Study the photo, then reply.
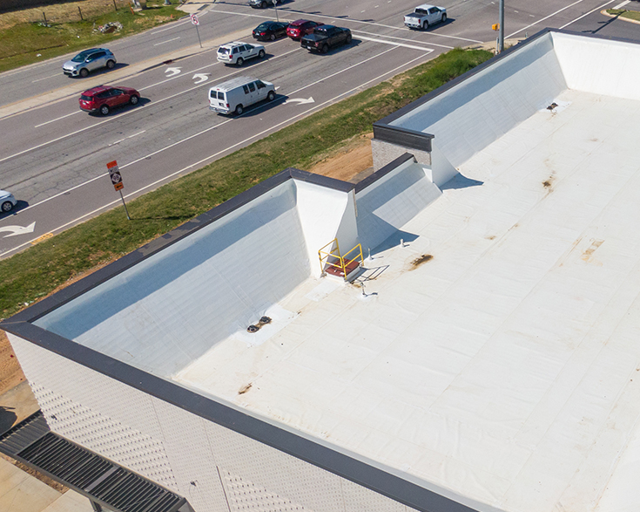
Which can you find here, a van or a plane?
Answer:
van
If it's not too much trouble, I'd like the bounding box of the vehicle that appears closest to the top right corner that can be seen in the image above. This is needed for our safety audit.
[403,4,447,30]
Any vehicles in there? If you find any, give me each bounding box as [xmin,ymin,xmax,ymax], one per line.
[208,75,277,114]
[300,25,352,53]
[58,46,116,78]
[246,0,283,9]
[76,85,141,115]
[216,40,266,66]
[280,19,321,42]
[403,4,447,30]
[251,20,283,41]
[0,189,18,213]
